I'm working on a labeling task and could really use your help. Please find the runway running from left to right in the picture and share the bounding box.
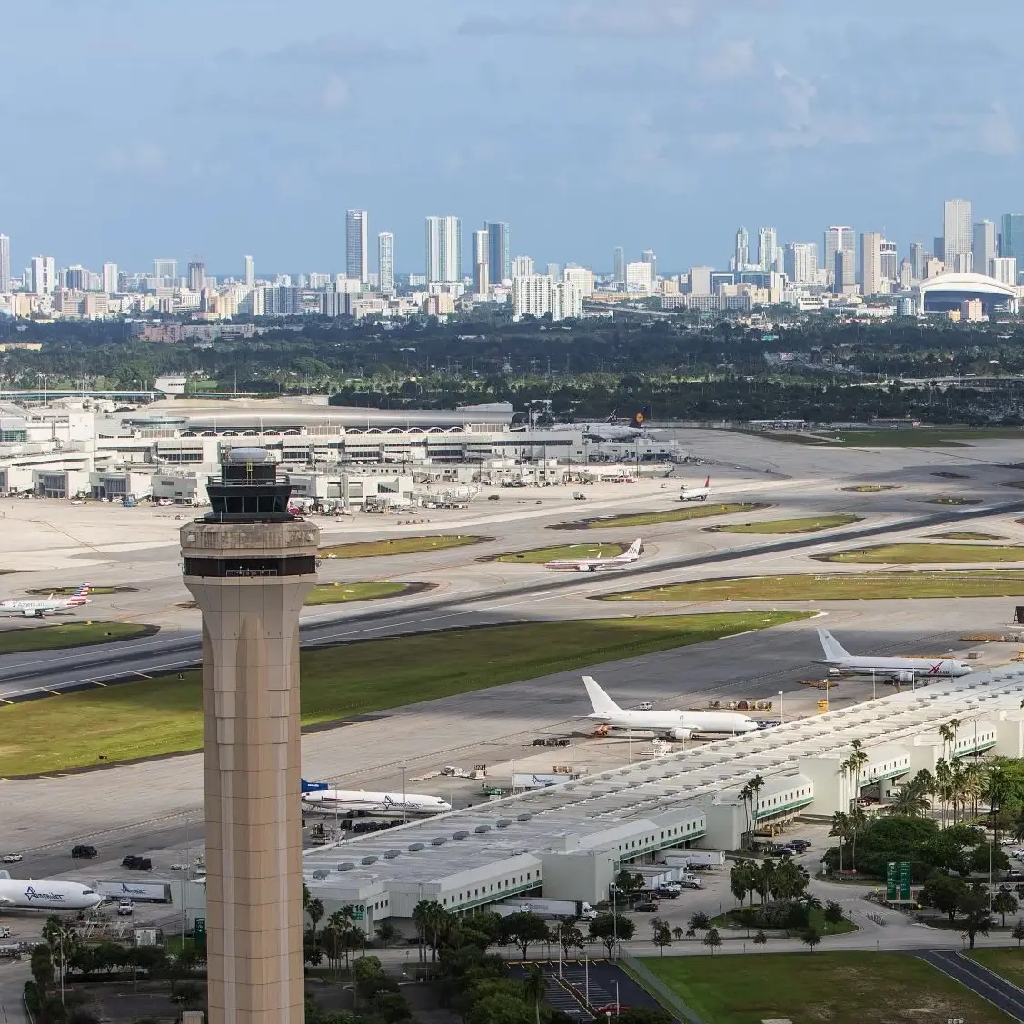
[0,496,1024,700]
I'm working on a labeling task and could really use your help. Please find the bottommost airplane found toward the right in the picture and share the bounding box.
[578,678,759,742]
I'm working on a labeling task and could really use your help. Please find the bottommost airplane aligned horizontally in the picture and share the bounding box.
[0,873,99,918]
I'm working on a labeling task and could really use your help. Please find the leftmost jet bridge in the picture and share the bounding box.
[22,483,42,496]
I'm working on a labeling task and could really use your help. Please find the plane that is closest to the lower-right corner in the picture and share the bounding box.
[812,628,970,683]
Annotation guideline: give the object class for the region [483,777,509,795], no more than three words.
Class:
work vehicle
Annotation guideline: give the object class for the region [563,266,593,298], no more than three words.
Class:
building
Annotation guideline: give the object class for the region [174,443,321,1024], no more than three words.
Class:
building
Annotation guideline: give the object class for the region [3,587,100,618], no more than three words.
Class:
airplane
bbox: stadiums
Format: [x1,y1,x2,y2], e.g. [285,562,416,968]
[906,273,1019,315]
